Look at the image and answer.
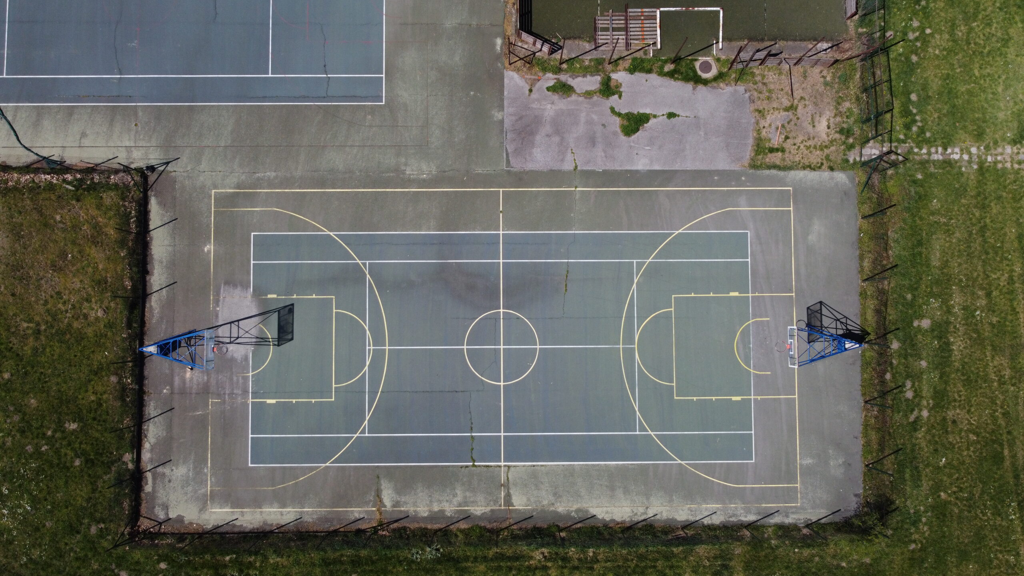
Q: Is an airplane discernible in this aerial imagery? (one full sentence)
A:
No, I can't see a single airplane in this photo.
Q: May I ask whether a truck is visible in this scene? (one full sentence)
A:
No, I can see no truck in this picture.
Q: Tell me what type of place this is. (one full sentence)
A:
The picture captures a sports ground.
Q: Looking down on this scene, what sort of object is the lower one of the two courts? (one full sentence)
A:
The lower one of the two courts is a basketball court.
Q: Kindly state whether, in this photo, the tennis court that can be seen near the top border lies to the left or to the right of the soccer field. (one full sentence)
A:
From the viewer's perspective, the tennis court that can be seen near the top border falls to the left of the soccer field.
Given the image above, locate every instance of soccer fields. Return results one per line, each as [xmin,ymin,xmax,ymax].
[519,0,850,59]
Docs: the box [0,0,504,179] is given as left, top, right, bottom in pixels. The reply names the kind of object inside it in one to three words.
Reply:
tennis court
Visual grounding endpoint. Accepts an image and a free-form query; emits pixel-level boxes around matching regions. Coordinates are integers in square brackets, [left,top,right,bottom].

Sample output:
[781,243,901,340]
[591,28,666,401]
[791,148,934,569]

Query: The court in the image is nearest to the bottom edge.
[141,164,863,533]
